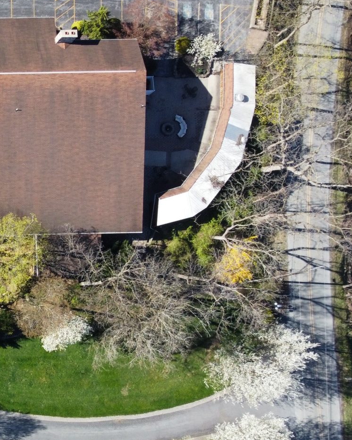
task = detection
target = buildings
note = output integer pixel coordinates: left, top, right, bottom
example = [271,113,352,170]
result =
[0,17,157,281]
[146,64,256,228]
